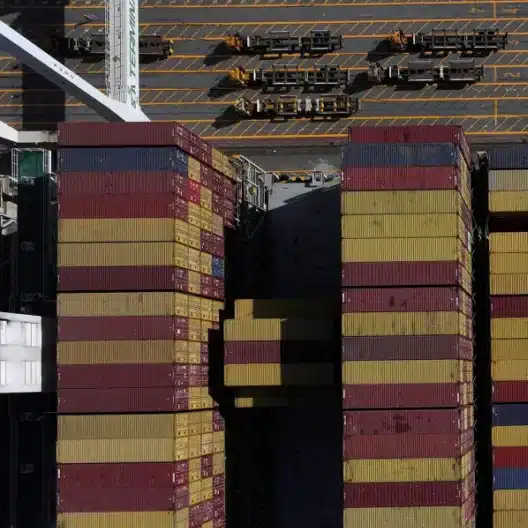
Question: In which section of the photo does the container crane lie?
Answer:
top left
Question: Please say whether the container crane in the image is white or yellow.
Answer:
white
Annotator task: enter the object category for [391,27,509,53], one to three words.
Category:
truck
